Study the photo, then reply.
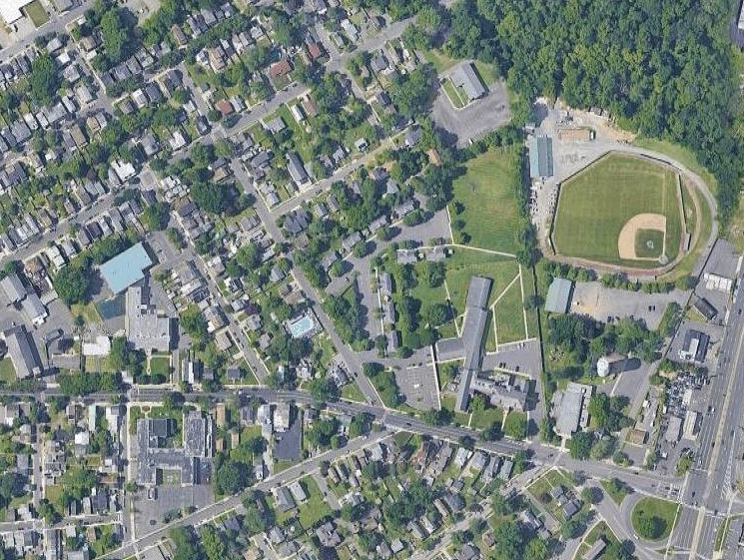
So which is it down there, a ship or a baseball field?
baseball field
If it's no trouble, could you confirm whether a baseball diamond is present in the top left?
No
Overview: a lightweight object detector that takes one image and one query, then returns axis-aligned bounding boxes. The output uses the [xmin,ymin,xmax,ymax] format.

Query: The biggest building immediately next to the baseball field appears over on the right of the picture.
[455,277,492,412]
